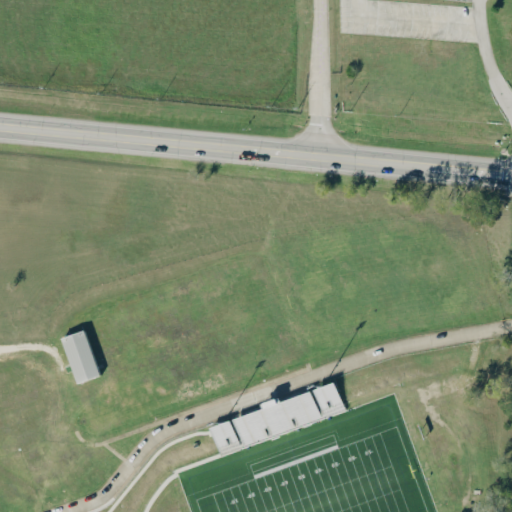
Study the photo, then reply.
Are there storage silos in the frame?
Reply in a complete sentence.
No, there isn't any storage silo down there.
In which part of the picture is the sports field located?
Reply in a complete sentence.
You can find the sports field in the bottom area of the picture.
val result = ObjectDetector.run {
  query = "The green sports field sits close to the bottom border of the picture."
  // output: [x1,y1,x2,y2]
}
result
[178,395,438,512]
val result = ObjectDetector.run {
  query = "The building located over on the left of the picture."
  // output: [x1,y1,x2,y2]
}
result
[61,331,102,384]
